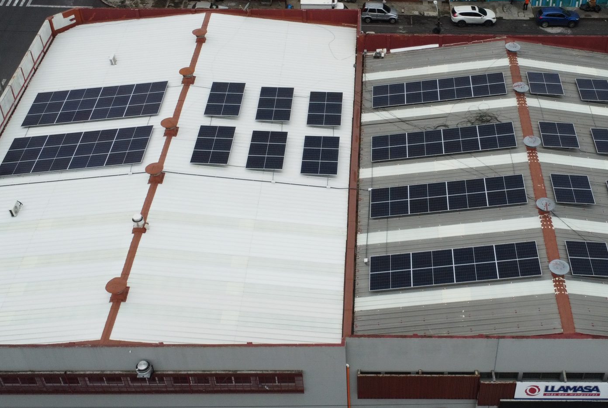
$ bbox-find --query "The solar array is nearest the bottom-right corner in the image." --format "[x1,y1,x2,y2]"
[565,239,608,277]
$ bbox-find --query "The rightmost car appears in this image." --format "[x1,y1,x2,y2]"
[536,8,582,31]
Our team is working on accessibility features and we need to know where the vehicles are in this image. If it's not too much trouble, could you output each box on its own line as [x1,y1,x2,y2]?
[450,7,496,29]
[363,4,400,27]
[300,0,347,8]
[536,8,582,31]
